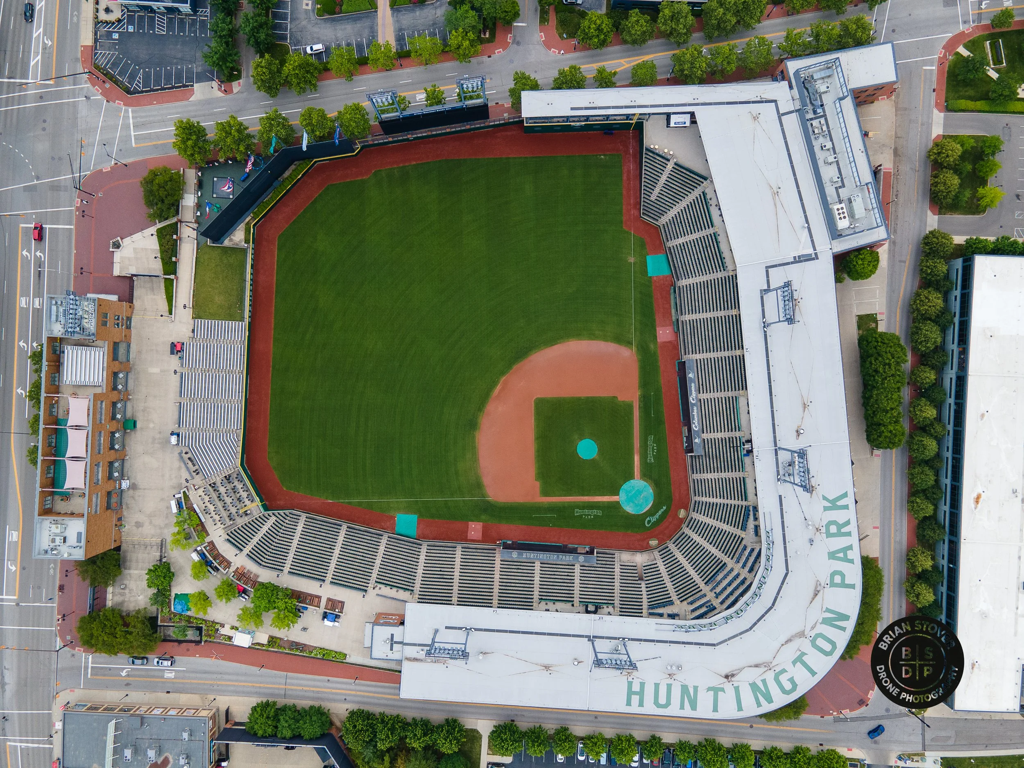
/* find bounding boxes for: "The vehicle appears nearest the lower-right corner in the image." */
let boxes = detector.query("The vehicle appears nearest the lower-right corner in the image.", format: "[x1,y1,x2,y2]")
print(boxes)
[866,723,885,739]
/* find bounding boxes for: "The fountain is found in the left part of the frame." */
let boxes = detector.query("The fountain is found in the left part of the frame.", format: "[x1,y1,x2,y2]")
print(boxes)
[108,235,126,252]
